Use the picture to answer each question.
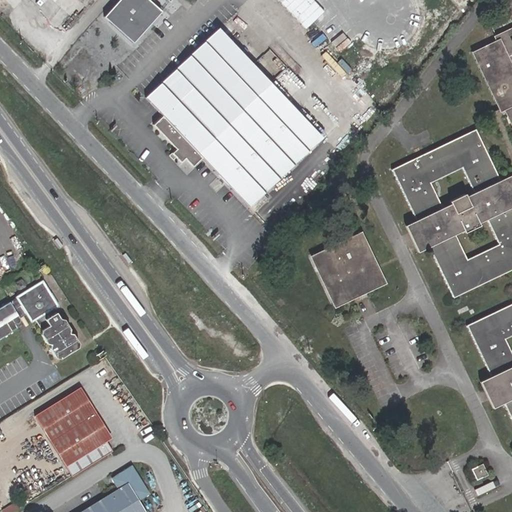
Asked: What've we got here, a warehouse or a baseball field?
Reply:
warehouse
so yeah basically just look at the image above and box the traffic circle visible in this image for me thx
[164,370,254,462]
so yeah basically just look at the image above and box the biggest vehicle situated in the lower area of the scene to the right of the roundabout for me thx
[330,392,360,427]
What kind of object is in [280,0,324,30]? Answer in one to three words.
shed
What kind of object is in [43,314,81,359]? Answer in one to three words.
building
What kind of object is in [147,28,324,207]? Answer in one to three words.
warehouse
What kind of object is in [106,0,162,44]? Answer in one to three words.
building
